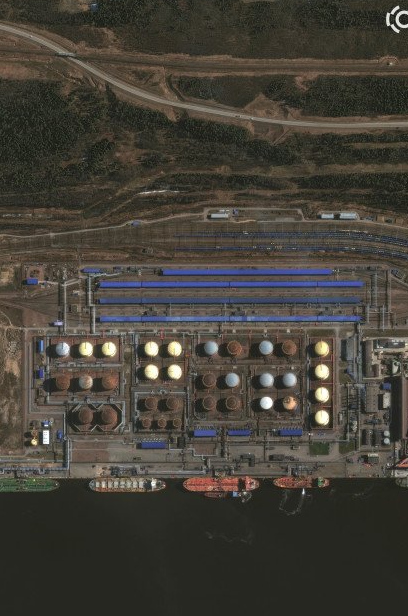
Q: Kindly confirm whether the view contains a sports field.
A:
No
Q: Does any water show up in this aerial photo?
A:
Yes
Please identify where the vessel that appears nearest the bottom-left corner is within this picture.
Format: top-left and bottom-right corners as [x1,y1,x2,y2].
[0,477,59,492]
